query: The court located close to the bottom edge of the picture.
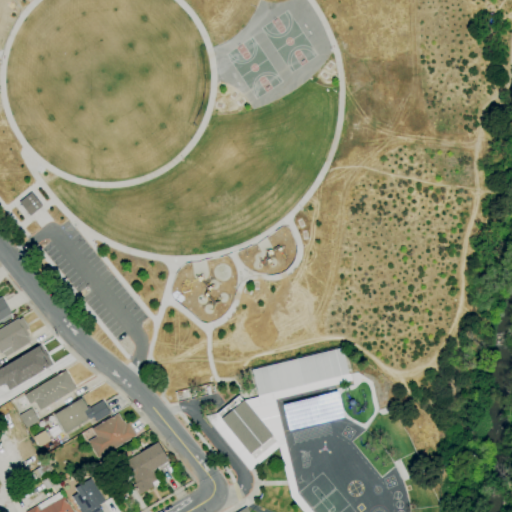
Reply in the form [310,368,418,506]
[300,473,355,512]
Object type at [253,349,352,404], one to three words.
building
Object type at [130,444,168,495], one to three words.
house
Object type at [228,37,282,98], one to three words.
basketball court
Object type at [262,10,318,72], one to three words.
basketball court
